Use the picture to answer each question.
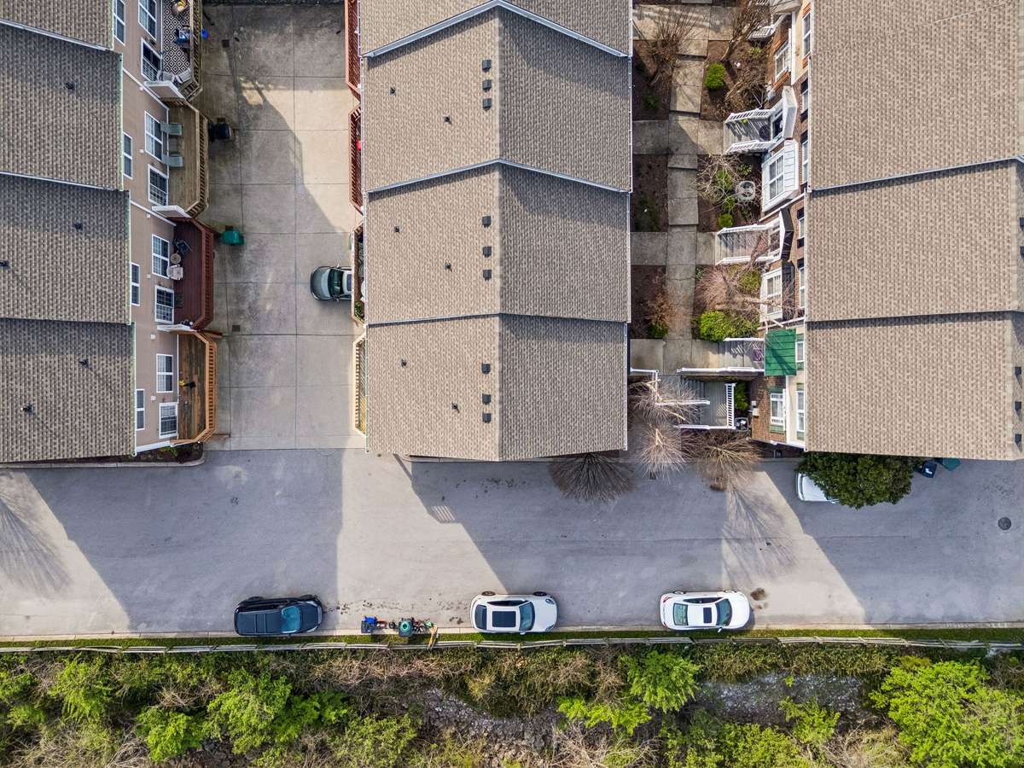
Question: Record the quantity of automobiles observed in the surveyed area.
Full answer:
I count 5 automobiles.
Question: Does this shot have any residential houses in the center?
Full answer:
Yes, looking in the center, one can make out a residential house.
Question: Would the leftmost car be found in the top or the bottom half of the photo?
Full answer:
It is in the bottom half that the leftmost car appears.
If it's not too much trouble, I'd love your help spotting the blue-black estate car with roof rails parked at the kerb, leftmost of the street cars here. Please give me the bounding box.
[232,595,325,643]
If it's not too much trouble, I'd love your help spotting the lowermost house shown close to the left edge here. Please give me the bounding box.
[0,318,217,462]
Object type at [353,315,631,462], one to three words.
house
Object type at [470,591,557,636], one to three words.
car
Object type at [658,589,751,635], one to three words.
car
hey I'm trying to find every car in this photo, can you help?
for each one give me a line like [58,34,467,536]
[470,591,557,636]
[310,260,356,304]
[232,595,325,643]
[796,469,844,510]
[658,589,751,635]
